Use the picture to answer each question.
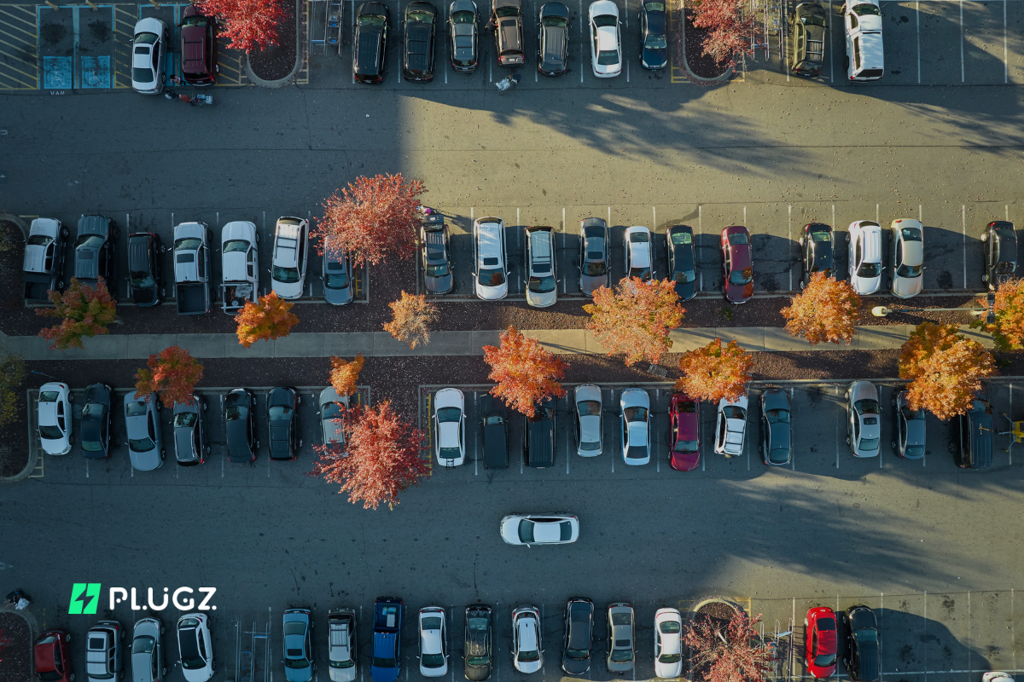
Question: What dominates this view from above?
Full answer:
The largest share of the image is taken up by paved ground.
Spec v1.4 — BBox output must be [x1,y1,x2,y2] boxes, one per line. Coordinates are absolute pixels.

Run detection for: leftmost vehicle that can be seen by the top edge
[127,19,169,95]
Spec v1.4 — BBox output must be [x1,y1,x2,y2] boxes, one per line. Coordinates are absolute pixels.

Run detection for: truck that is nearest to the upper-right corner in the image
[843,0,891,85]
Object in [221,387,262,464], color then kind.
black car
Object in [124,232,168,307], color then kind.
black car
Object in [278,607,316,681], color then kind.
blue car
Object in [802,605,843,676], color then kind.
red car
